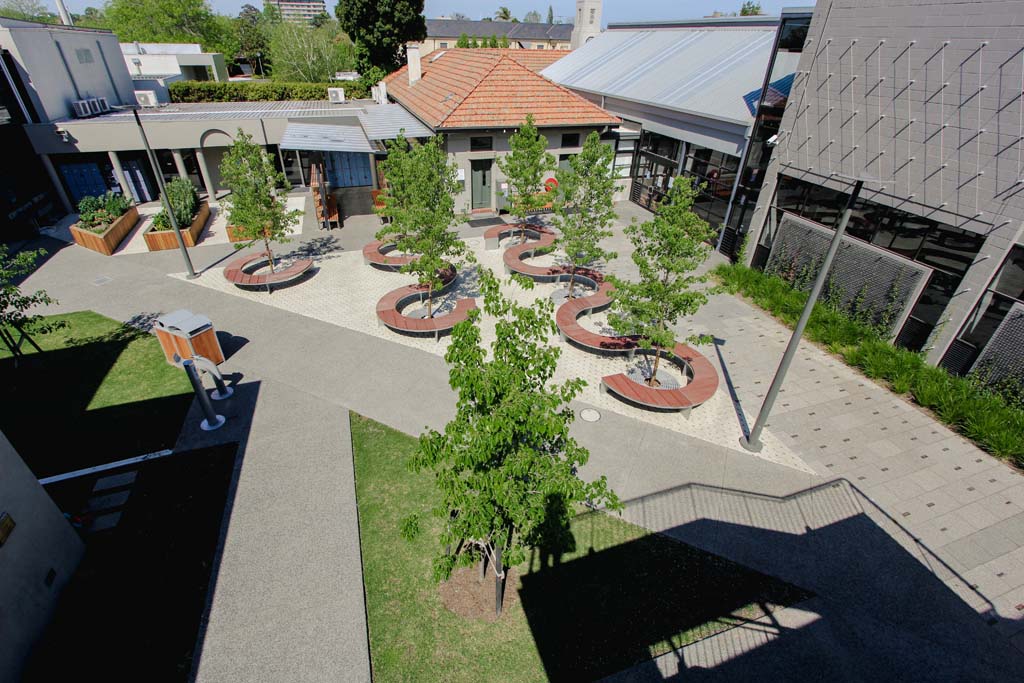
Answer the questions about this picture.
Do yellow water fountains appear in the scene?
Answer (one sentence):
No, the scene contains no yellow water fountain.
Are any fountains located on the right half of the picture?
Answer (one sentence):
No, looking on the right half of the picture, there is no fountain.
